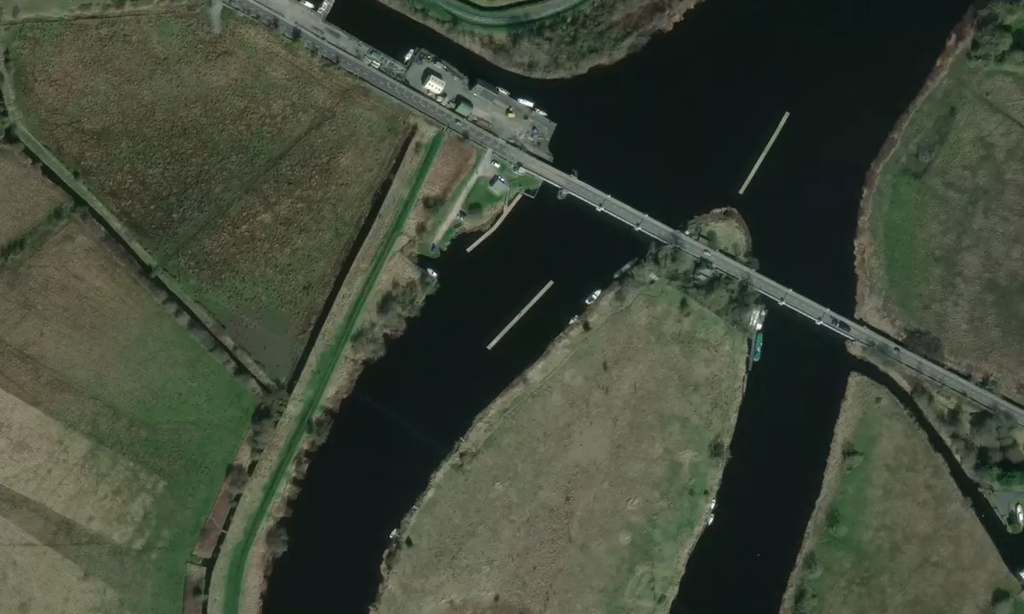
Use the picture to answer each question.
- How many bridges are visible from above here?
2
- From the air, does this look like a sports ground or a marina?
marina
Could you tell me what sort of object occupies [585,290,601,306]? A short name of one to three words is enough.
boat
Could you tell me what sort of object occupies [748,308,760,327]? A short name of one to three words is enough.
boat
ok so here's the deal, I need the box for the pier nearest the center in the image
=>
[487,281,553,349]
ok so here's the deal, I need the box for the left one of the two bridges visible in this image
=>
[526,156,677,245]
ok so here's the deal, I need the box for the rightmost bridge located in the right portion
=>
[750,272,863,342]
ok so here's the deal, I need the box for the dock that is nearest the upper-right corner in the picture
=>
[740,112,789,194]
